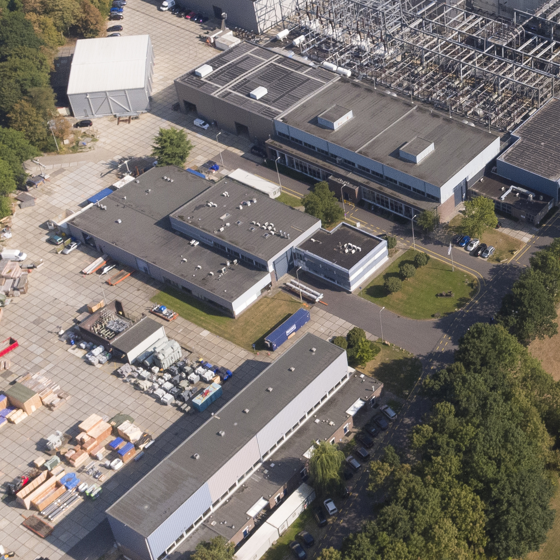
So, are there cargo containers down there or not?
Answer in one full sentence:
Yes, the frame does contain a cargo container.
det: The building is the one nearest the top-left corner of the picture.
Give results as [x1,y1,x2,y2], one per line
[66,35,155,119]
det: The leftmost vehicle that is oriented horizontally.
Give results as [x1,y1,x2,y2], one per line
[0,248,26,261]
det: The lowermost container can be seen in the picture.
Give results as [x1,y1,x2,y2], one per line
[191,382,224,414]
